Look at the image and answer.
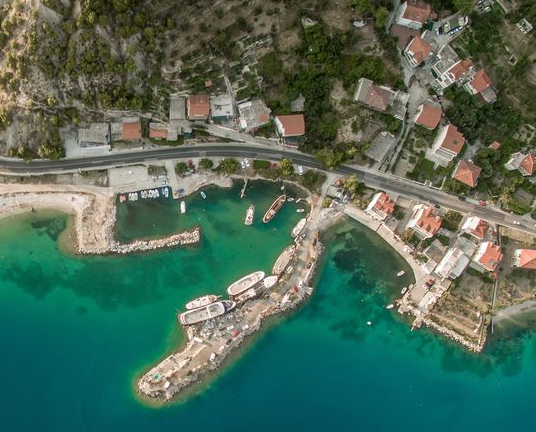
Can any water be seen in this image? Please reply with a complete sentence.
Yes, there's water in this view.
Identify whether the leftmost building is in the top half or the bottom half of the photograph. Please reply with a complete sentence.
The top half of the photo is where the leftmost building is.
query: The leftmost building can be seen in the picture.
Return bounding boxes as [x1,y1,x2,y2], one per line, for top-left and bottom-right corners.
[79,123,109,144]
